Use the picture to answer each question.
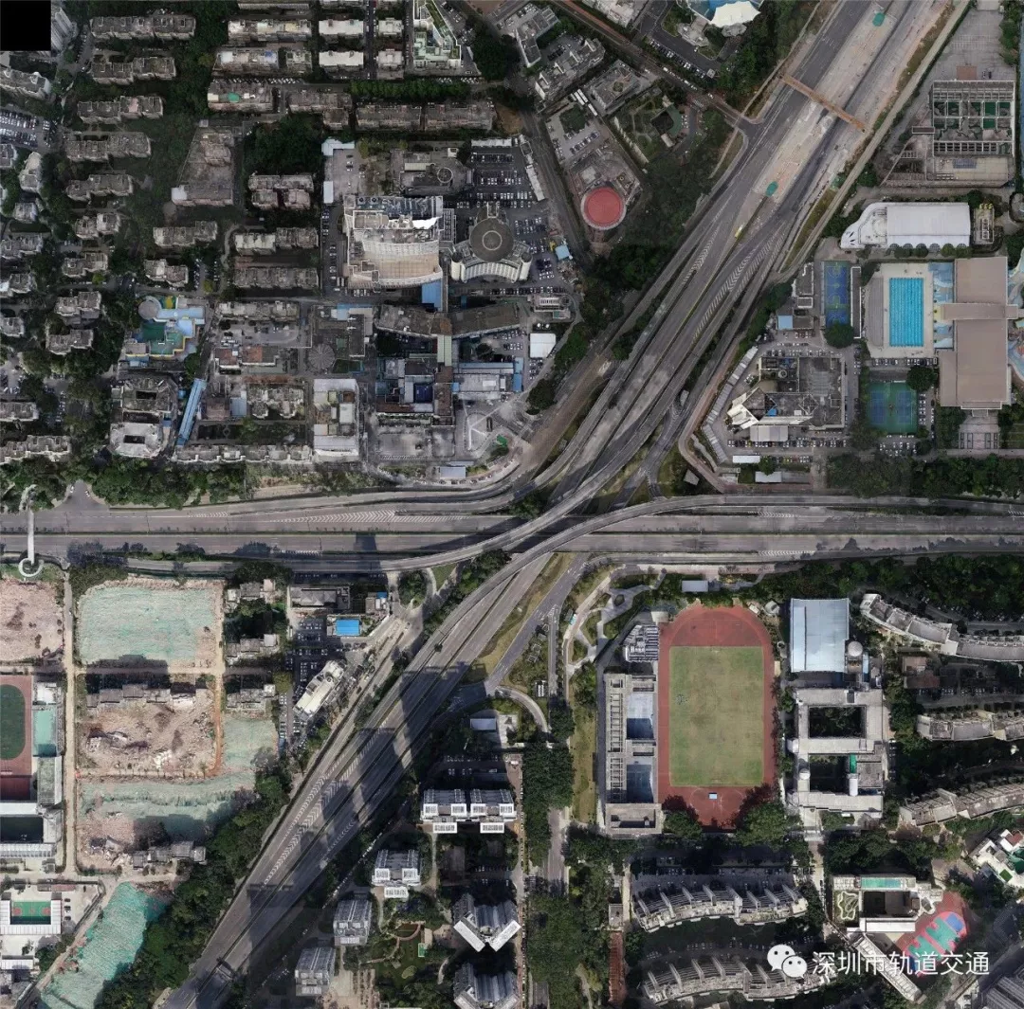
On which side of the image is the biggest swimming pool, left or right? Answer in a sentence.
The biggest swimming pool appears in the right half of the scene.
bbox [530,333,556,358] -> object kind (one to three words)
shed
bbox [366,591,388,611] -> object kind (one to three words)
building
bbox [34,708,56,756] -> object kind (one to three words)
sports court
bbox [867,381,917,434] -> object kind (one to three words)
tennis court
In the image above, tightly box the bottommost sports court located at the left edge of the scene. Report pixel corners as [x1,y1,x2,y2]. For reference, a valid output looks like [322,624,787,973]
[15,901,50,921]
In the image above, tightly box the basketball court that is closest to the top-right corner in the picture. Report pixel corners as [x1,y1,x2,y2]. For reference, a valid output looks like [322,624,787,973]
[821,262,850,328]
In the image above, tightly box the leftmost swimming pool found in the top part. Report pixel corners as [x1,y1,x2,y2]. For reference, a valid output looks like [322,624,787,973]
[864,263,934,357]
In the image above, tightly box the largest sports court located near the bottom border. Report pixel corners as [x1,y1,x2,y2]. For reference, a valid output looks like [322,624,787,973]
[898,892,968,977]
